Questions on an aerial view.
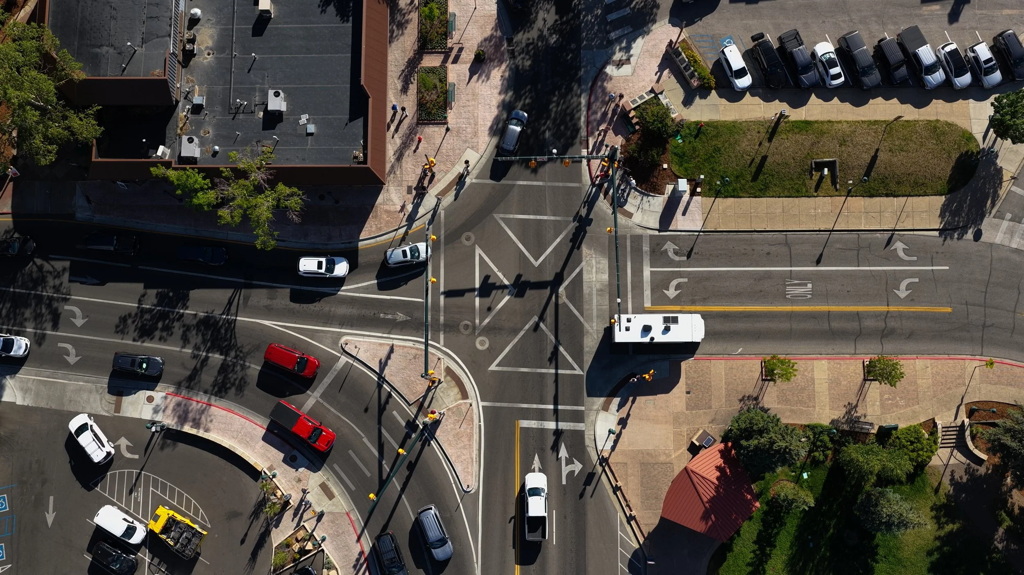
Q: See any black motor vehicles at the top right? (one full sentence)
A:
Yes, a black motor vehicle appears at the top right.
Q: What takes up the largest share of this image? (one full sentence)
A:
The scene is dominated by paved ground.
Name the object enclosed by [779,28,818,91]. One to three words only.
truck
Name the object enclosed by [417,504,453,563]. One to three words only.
car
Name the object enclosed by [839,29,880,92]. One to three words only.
truck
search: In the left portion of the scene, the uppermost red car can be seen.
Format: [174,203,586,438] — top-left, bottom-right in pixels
[262,344,323,378]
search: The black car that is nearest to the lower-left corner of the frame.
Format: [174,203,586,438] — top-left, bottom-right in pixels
[92,539,140,575]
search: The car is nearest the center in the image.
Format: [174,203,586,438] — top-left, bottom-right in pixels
[383,240,432,269]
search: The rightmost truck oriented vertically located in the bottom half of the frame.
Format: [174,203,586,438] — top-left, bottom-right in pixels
[523,473,550,542]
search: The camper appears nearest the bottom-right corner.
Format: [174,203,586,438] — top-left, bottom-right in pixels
[610,310,708,346]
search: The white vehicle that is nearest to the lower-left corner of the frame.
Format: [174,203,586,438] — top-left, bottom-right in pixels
[95,502,149,544]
